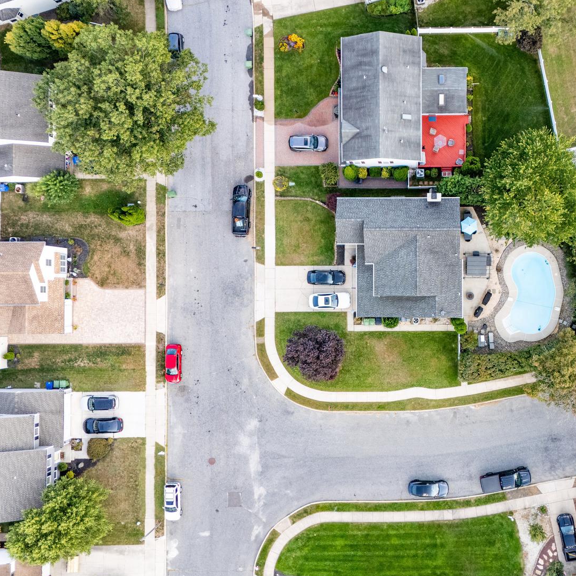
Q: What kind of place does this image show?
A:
residential area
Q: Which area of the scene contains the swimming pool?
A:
right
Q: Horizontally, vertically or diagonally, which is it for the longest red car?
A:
vertically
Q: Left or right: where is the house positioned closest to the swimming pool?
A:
right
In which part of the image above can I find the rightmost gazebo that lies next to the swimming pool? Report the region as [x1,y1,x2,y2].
[462,252,492,281]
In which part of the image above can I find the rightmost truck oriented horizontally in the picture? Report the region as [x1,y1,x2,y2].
[479,467,532,492]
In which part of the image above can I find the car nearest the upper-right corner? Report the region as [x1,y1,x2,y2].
[288,134,329,152]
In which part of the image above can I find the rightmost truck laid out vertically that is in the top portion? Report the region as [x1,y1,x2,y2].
[230,185,251,236]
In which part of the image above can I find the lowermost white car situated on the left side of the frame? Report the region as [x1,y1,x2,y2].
[162,481,183,520]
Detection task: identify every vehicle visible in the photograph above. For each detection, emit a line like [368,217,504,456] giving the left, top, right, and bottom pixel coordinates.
[408,479,448,499]
[163,344,183,383]
[166,0,184,13]
[288,134,329,152]
[230,185,251,236]
[479,467,532,492]
[306,268,346,287]
[162,481,183,520]
[84,416,125,436]
[308,291,350,310]
[166,31,186,69]
[84,394,121,413]
[557,512,576,563]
